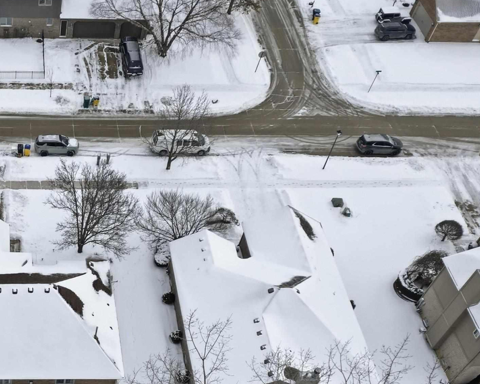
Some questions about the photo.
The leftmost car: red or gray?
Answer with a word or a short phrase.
gray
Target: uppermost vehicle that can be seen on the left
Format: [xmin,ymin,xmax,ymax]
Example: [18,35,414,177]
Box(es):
[122,38,148,70]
